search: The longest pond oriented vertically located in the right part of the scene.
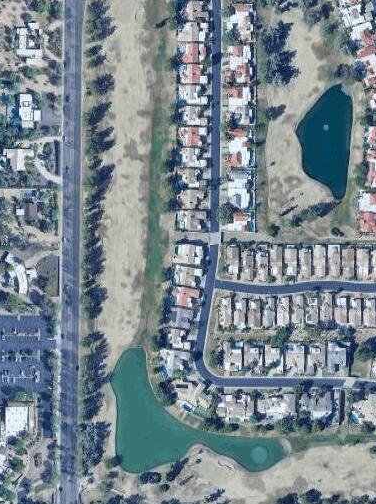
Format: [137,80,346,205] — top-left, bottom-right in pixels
[296,82,355,200]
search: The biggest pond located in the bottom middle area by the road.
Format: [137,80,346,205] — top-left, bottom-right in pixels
[111,344,288,474]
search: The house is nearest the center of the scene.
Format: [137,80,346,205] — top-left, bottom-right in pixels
[174,243,203,266]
